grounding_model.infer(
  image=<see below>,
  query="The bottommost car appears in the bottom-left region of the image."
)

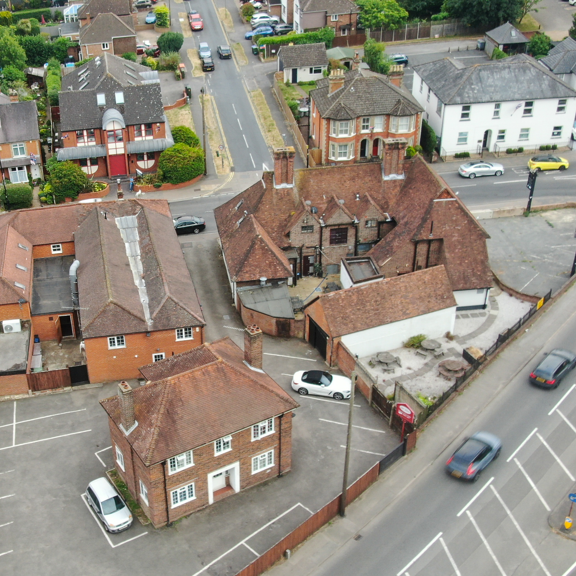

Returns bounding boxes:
[84,474,132,533]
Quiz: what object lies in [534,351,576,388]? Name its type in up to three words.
car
